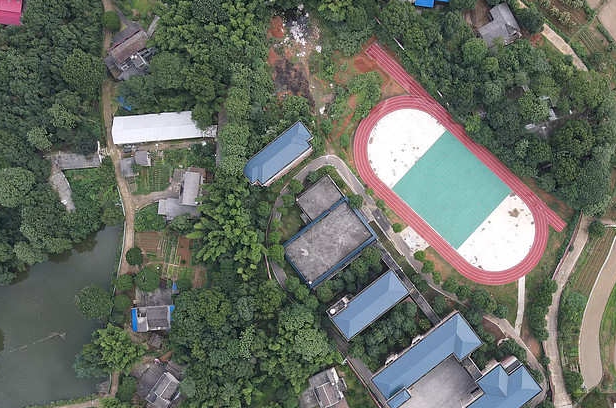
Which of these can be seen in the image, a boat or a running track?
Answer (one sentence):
Of the two, only a running track appears.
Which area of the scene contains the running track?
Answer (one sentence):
Look in the right portion of the view to spot the running track.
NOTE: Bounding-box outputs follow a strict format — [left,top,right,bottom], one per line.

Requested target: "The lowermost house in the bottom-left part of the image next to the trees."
[145,372,181,408]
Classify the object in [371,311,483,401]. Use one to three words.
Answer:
building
